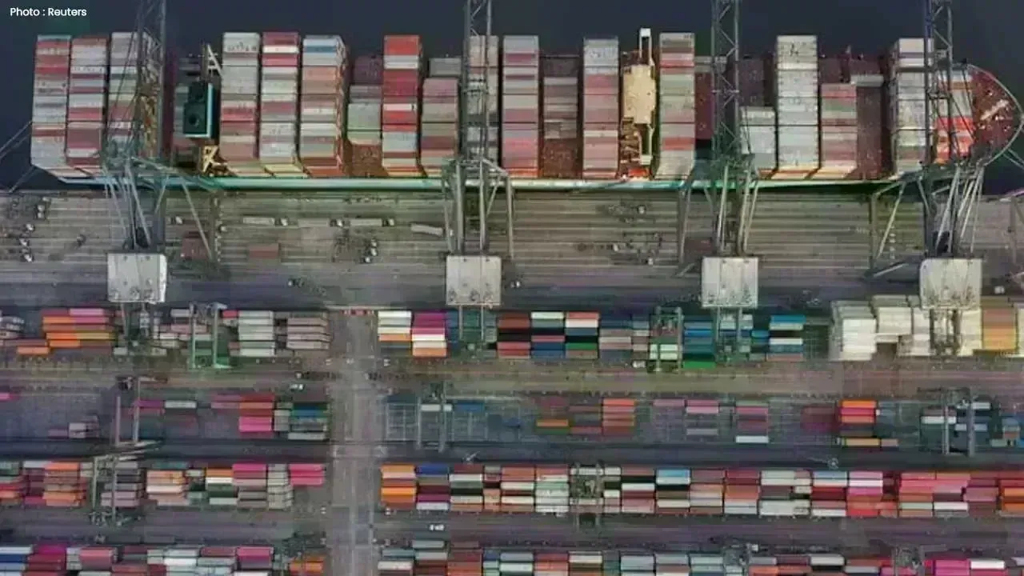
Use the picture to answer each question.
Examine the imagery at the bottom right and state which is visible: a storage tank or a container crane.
container crane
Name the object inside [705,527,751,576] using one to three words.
container crane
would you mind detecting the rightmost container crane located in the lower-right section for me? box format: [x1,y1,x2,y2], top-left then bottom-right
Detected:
[910,382,973,459]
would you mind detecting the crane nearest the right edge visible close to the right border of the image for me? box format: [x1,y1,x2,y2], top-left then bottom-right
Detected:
[977,194,1024,288]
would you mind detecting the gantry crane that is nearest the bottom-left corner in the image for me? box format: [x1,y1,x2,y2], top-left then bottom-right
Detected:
[90,444,152,525]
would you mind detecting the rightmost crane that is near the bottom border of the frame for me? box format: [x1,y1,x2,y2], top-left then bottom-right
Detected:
[863,528,922,576]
